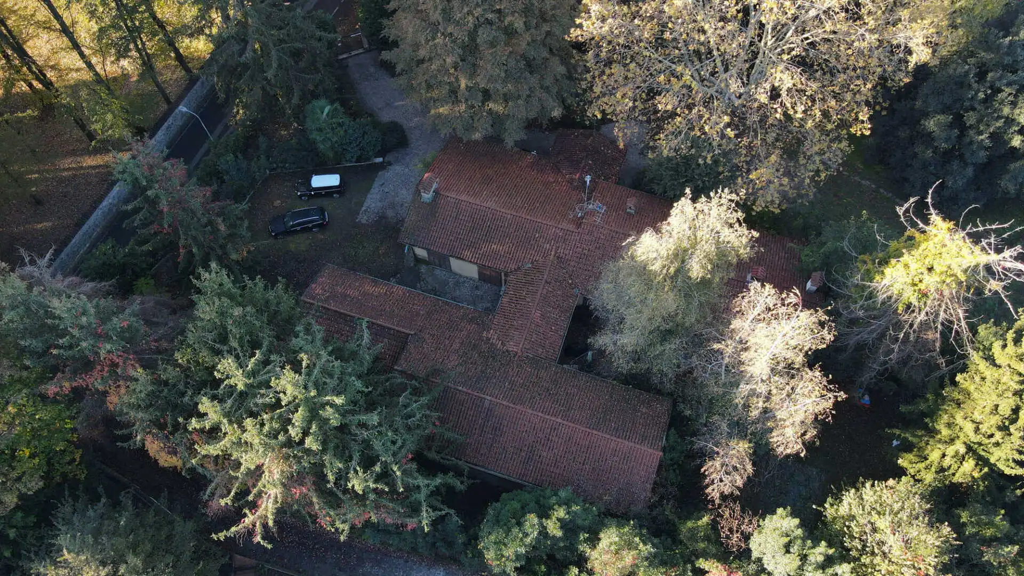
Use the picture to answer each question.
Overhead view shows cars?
Yes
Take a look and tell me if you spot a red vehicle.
No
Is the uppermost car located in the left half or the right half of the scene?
left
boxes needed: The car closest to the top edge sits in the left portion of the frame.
[295,173,342,200]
